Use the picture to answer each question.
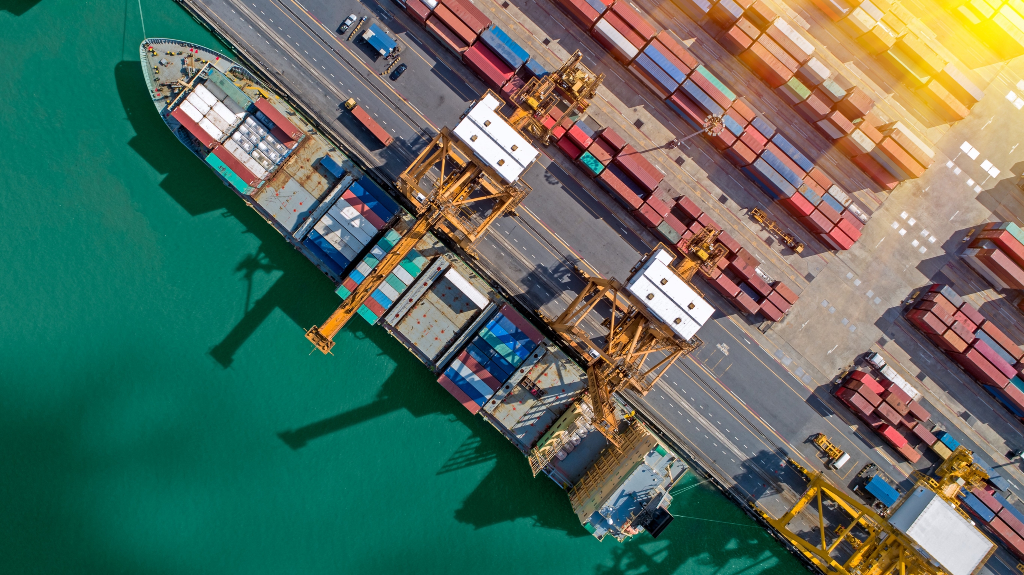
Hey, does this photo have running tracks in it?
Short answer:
No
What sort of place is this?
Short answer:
port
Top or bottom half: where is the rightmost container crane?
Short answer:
bottom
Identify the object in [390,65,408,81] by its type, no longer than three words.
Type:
car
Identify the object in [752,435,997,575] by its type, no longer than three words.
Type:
container crane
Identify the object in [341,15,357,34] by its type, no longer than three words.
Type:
vehicle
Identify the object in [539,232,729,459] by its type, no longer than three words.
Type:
container crane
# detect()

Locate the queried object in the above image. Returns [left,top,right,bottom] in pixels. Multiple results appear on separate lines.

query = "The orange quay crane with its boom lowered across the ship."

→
[297,77,557,362]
